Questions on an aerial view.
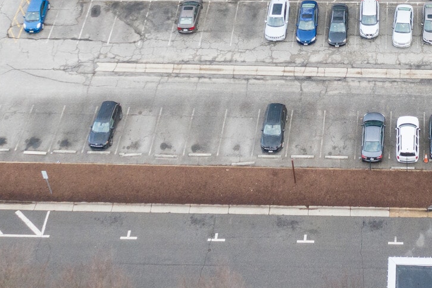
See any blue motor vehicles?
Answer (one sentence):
Yes, a blue motor vehicle appears in the view.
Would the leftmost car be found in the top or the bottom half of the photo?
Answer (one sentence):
You can find the leftmost car in the top half.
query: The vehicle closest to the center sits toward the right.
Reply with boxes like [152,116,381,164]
[258,98,289,155]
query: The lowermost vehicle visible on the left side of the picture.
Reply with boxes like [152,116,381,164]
[87,95,124,152]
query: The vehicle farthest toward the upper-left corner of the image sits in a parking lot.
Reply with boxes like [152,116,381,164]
[20,0,52,35]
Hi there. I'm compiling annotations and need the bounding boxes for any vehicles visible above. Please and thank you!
[87,95,124,152]
[20,0,52,35]
[295,0,319,42]
[258,98,289,155]
[361,112,387,164]
[426,109,432,162]
[395,113,421,165]
[263,0,290,42]
[325,2,350,46]
[420,2,432,46]
[357,0,381,40]
[390,4,415,48]
[175,0,204,36]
